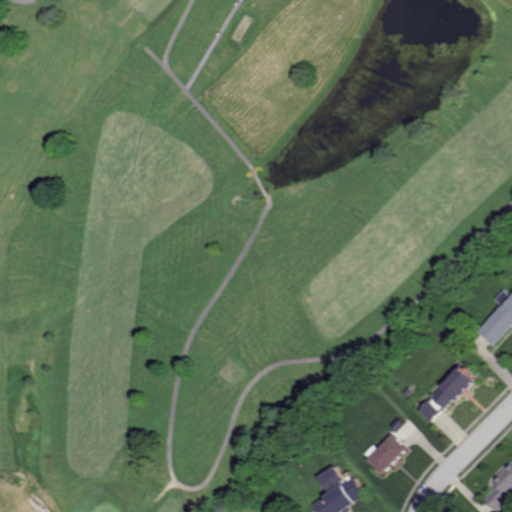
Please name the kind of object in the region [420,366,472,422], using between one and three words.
house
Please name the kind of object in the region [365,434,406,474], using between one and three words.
house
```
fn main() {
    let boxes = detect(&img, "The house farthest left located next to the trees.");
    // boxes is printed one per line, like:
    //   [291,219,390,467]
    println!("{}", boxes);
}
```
[312,466,366,512]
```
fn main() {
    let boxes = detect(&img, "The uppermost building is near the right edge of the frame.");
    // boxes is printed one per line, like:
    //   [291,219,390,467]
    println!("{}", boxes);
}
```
[478,291,512,346]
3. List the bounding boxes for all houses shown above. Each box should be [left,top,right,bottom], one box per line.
[485,458,512,512]
[365,434,406,474]
[420,366,472,422]
[312,466,366,512]
[478,291,512,346]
